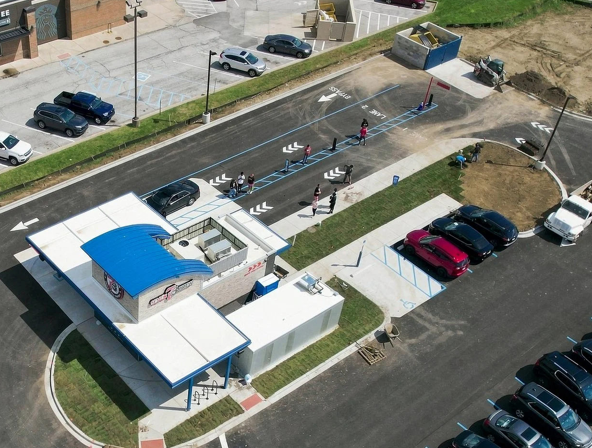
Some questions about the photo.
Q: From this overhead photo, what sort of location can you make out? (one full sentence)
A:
The picture captures a parking lot.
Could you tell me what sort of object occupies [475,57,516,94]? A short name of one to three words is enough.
work vehicle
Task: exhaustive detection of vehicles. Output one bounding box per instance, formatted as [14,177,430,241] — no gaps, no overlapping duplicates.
[143,179,202,217]
[562,332,592,369]
[476,401,560,448]
[530,348,592,421]
[445,422,505,448]
[32,101,88,136]
[430,212,499,259]
[263,33,314,57]
[55,91,118,124]
[475,57,516,94]
[218,46,267,76]
[386,0,427,8]
[402,229,472,278]
[506,375,592,448]
[454,199,520,243]
[540,181,592,245]
[0,129,33,164]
